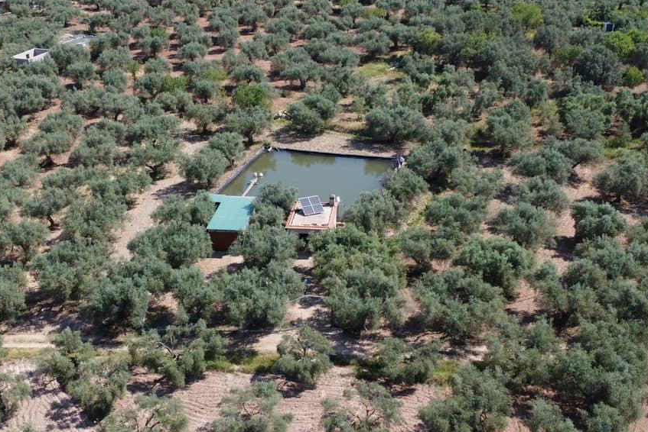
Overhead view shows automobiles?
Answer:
No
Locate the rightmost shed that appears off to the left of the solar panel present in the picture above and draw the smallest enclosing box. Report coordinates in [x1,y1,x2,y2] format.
[206,195,256,251]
